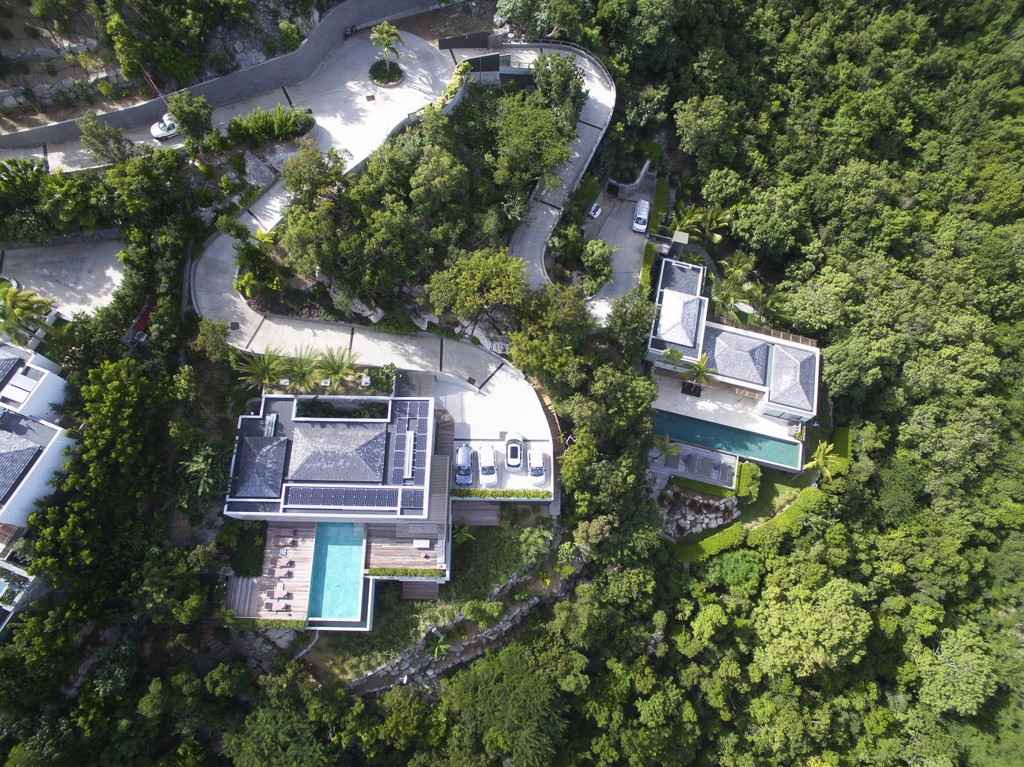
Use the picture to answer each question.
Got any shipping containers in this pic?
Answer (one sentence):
No, no shipping container can be seen from above.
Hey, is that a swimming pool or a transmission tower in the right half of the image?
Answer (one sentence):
The feature located in the right half of the image is a swimming pool.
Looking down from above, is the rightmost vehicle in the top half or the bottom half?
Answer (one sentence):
It is in the top half that the rightmost vehicle appears.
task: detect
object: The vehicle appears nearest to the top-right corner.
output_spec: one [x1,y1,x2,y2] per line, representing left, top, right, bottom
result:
[631,195,651,233]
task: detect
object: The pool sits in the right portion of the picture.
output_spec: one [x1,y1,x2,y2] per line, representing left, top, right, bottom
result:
[645,406,801,469]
